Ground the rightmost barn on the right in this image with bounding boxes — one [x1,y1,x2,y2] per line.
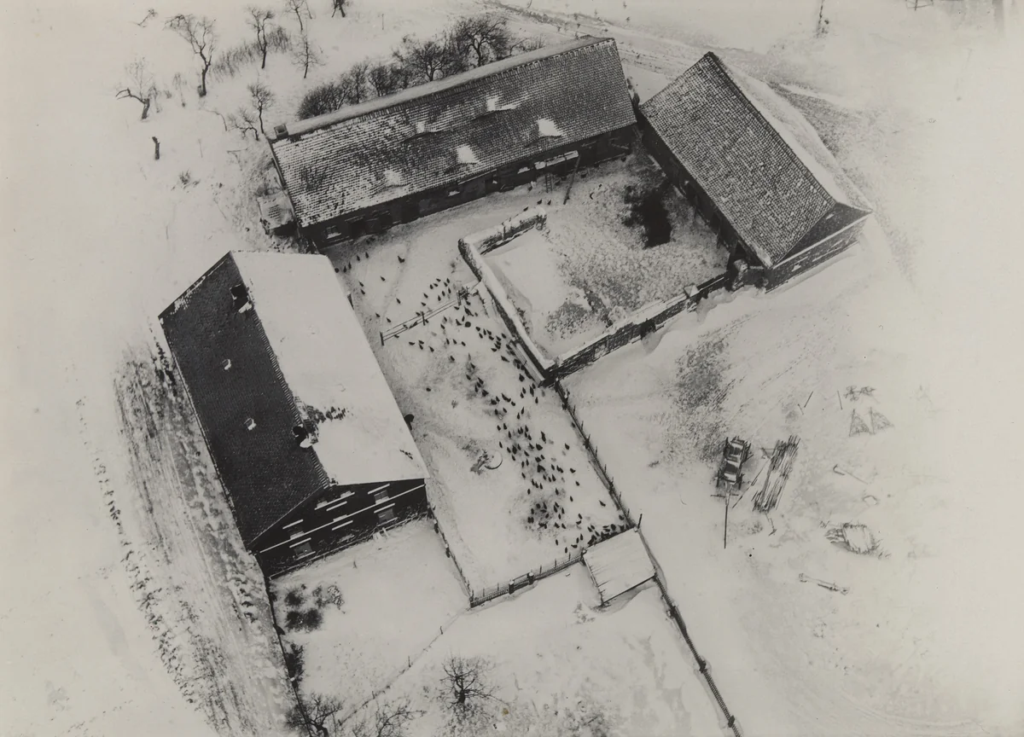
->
[638,49,876,291]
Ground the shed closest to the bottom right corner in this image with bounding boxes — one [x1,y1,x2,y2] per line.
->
[582,528,657,607]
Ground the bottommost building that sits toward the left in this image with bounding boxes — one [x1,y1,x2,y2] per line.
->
[158,249,431,575]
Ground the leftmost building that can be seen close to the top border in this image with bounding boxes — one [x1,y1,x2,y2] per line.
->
[258,33,637,250]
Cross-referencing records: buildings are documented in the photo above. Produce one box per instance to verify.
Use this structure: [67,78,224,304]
[258,33,637,250]
[158,249,431,575]
[582,528,657,607]
[638,49,876,291]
